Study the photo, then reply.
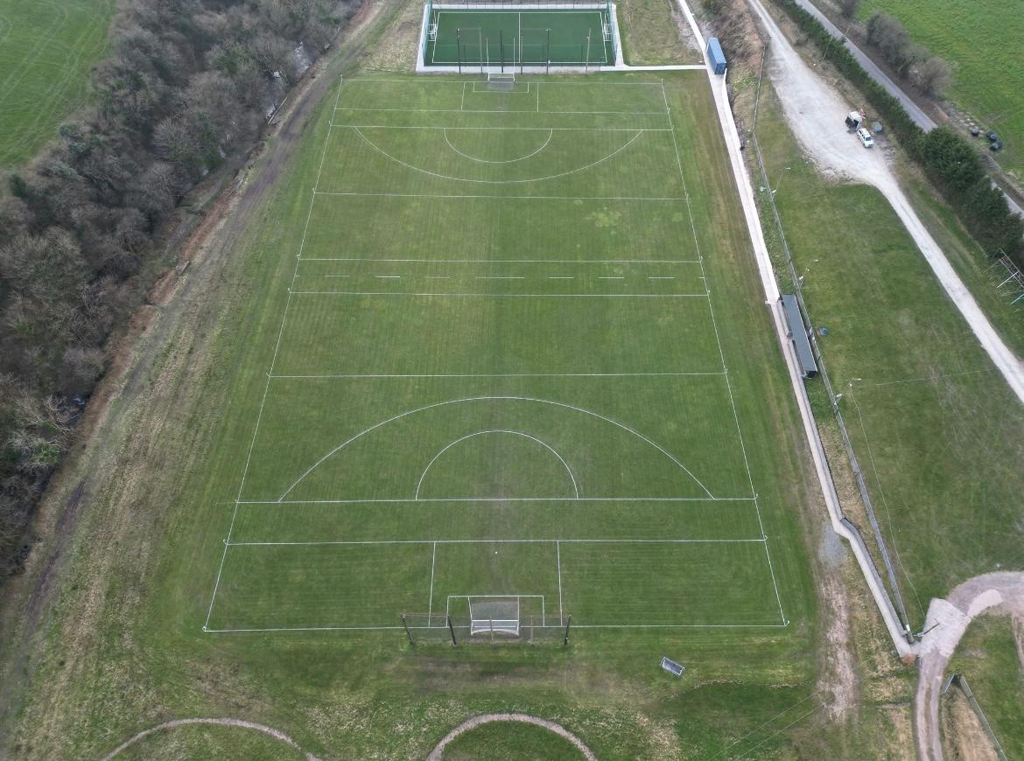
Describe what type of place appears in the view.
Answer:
sports ground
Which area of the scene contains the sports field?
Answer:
center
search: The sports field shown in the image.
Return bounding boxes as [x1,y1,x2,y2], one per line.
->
[162,77,825,646]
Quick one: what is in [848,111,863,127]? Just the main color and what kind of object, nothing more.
white vehicle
